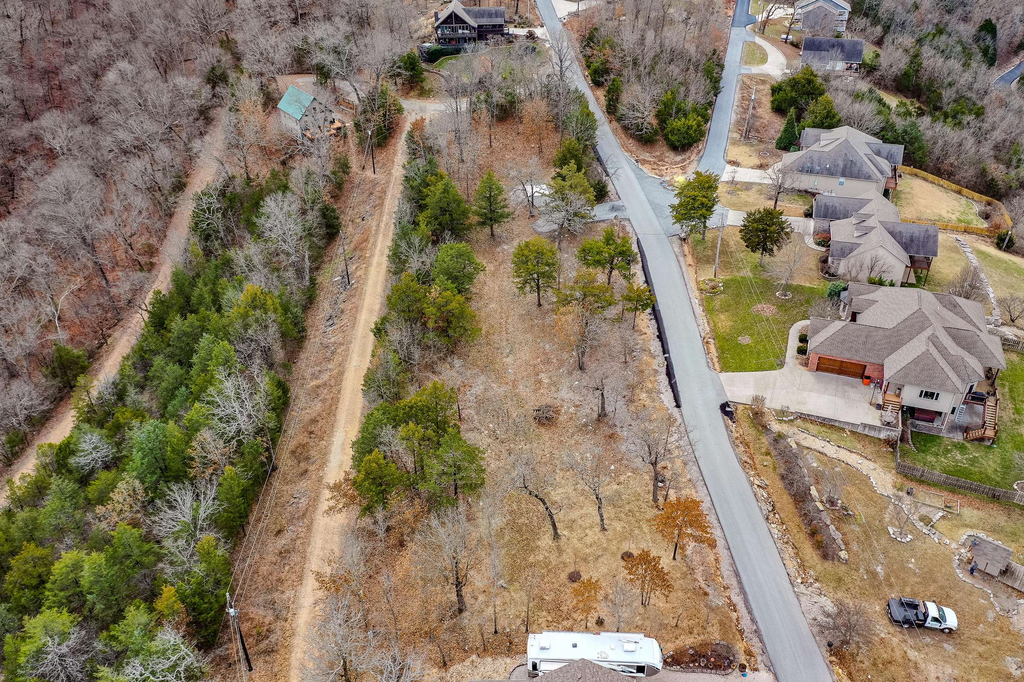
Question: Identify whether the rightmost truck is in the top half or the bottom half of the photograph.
bottom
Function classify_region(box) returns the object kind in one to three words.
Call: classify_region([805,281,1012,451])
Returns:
house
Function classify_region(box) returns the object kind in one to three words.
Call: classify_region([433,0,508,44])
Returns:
house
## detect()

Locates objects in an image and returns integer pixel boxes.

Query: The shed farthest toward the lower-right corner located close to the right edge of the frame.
[967,535,1013,577]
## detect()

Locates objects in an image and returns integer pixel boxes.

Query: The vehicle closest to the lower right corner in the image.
[884,597,959,634]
